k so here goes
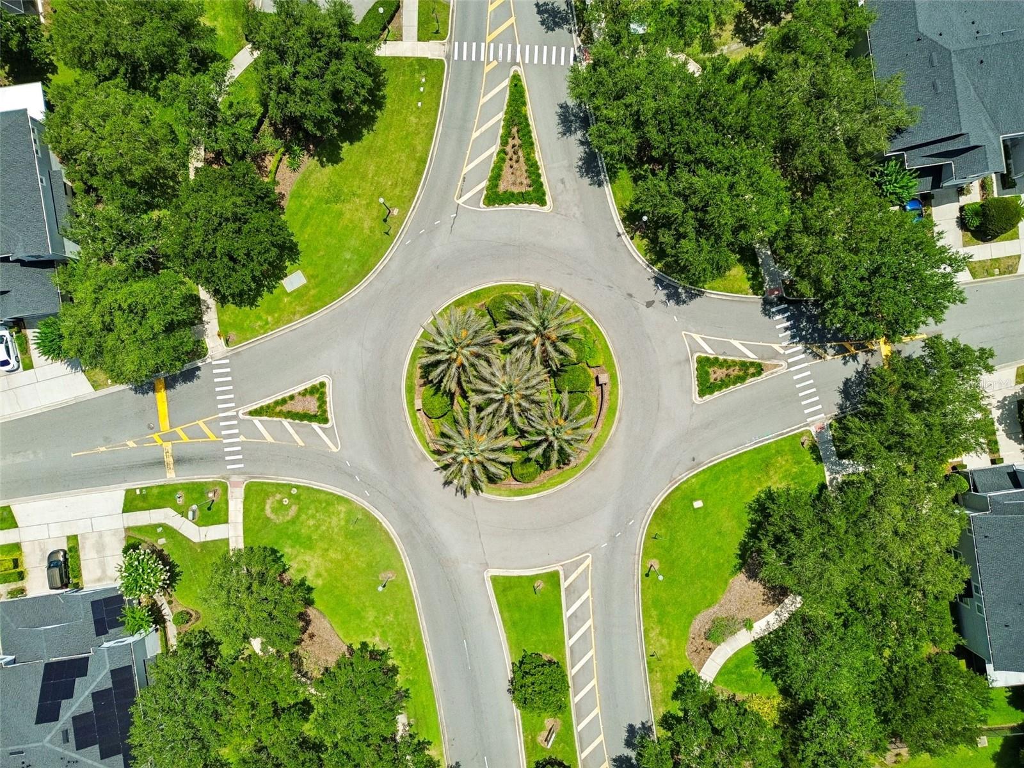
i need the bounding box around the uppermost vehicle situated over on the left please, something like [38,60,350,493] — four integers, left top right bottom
[0,332,20,372]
